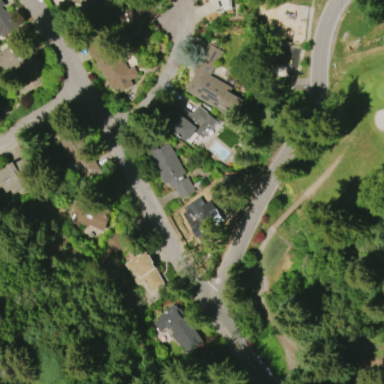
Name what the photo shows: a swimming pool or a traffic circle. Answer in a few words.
swimming pool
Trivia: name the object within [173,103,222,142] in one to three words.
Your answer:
house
